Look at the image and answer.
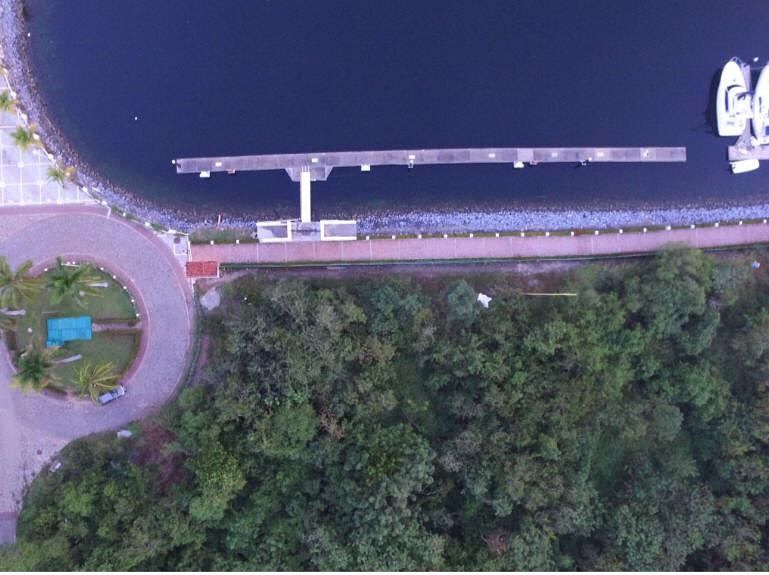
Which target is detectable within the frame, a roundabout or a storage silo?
roundabout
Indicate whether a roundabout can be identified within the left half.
Yes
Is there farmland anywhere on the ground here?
No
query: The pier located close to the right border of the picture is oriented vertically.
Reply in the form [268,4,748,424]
[727,64,769,161]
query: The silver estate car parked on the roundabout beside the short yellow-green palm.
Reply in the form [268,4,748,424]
[98,386,125,405]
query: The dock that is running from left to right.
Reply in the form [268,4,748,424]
[176,146,688,182]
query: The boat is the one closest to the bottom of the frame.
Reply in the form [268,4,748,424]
[731,160,761,173]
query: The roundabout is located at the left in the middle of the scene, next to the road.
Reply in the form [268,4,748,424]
[4,254,150,400]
